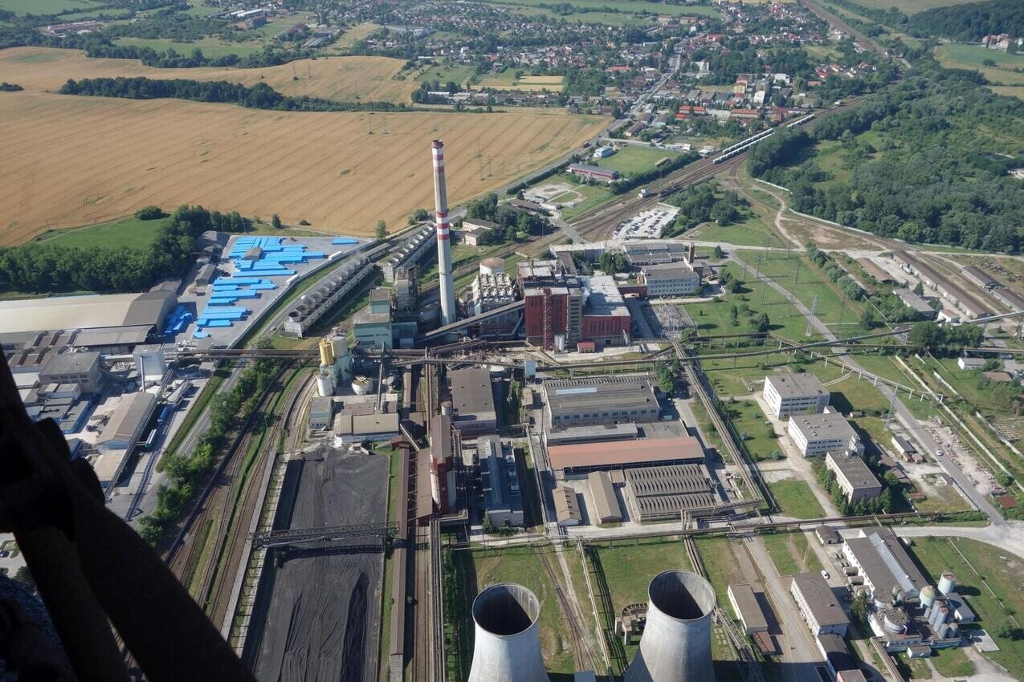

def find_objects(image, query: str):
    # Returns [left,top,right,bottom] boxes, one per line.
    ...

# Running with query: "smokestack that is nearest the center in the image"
[430,141,456,333]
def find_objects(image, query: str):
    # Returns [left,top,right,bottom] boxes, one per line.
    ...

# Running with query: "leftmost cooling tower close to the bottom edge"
[467,582,549,682]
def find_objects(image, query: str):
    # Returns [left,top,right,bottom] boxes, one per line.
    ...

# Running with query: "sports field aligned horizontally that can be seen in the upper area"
[598,145,681,175]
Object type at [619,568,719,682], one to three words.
cooling tower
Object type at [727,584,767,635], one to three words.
building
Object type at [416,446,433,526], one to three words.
shed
